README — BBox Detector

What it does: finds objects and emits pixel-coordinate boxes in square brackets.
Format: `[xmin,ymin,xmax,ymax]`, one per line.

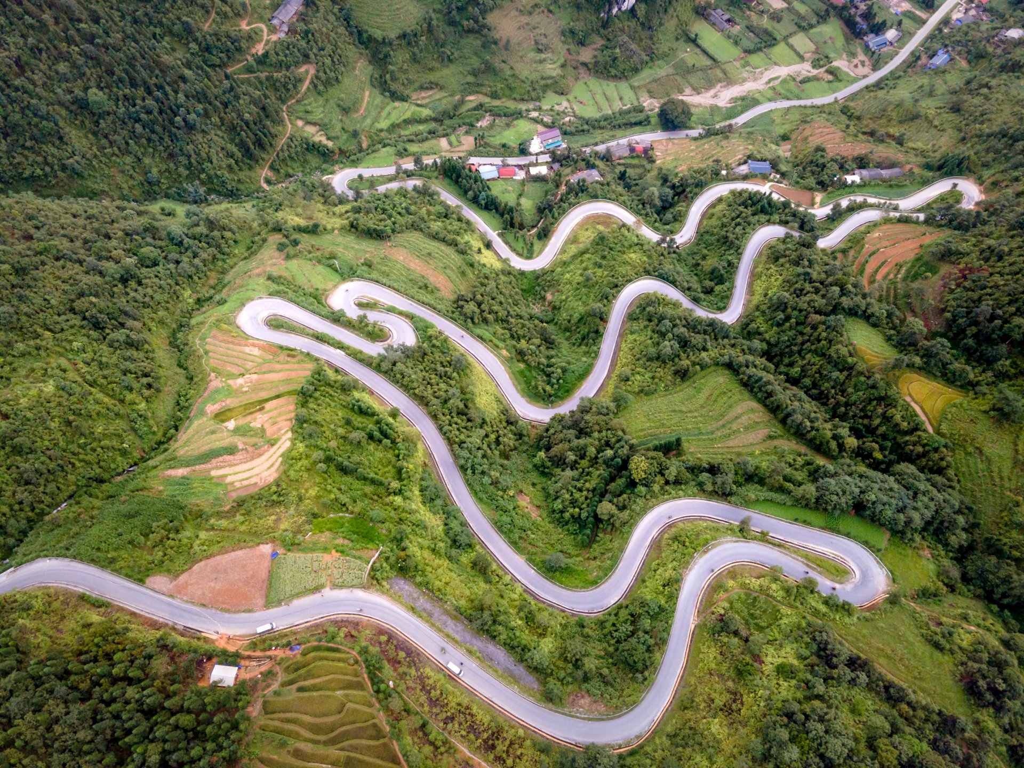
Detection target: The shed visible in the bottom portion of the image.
[210,661,240,692]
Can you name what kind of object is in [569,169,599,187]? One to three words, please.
house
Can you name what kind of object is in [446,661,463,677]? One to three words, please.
vehicle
